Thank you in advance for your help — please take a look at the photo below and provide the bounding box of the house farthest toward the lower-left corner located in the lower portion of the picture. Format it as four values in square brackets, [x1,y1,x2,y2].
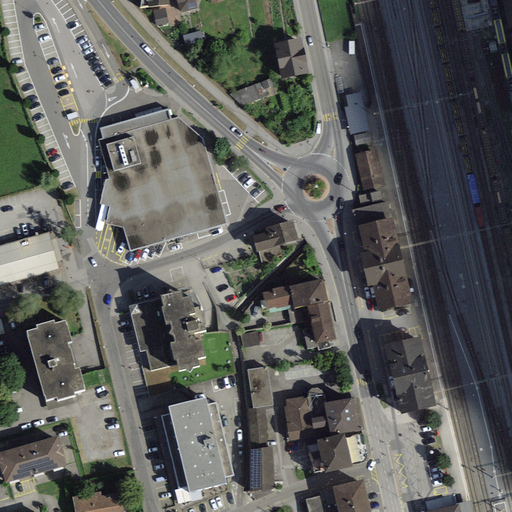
[0,437,66,484]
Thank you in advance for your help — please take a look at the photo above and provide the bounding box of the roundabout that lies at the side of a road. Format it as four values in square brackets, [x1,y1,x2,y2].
[282,154,350,220]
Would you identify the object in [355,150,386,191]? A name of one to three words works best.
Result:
shed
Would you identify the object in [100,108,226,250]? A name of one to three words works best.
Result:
building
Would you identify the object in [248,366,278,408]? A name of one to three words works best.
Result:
barn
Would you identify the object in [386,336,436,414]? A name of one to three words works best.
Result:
house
